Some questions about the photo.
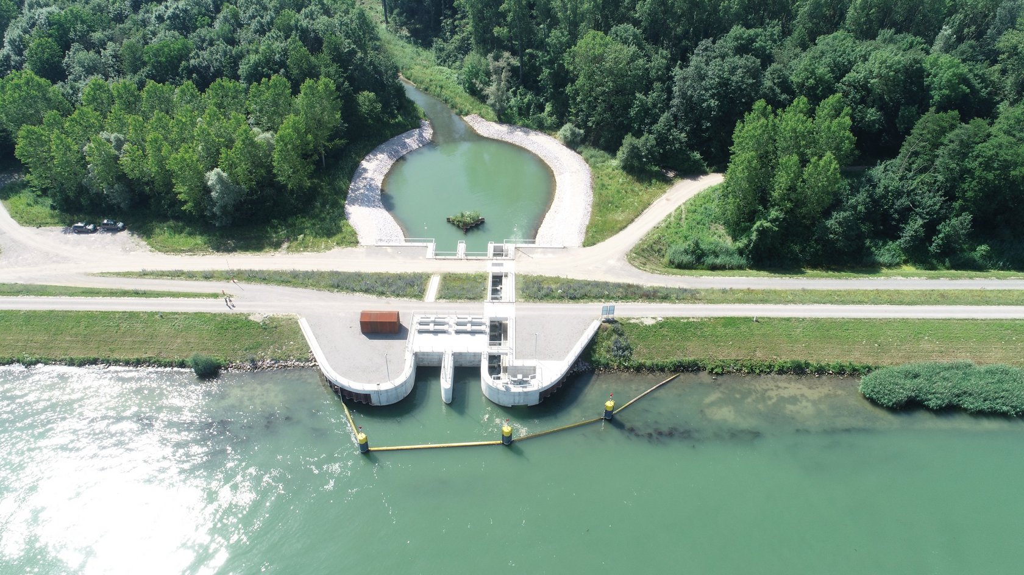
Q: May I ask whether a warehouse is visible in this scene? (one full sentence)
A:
No, no warehouse can be seen from above.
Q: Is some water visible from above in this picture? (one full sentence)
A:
Yes, some water is visible.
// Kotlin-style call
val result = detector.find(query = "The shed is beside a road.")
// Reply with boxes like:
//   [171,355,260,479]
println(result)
[359,309,398,333]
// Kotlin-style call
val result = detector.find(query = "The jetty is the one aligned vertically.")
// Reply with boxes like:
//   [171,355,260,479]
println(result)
[439,349,453,404]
